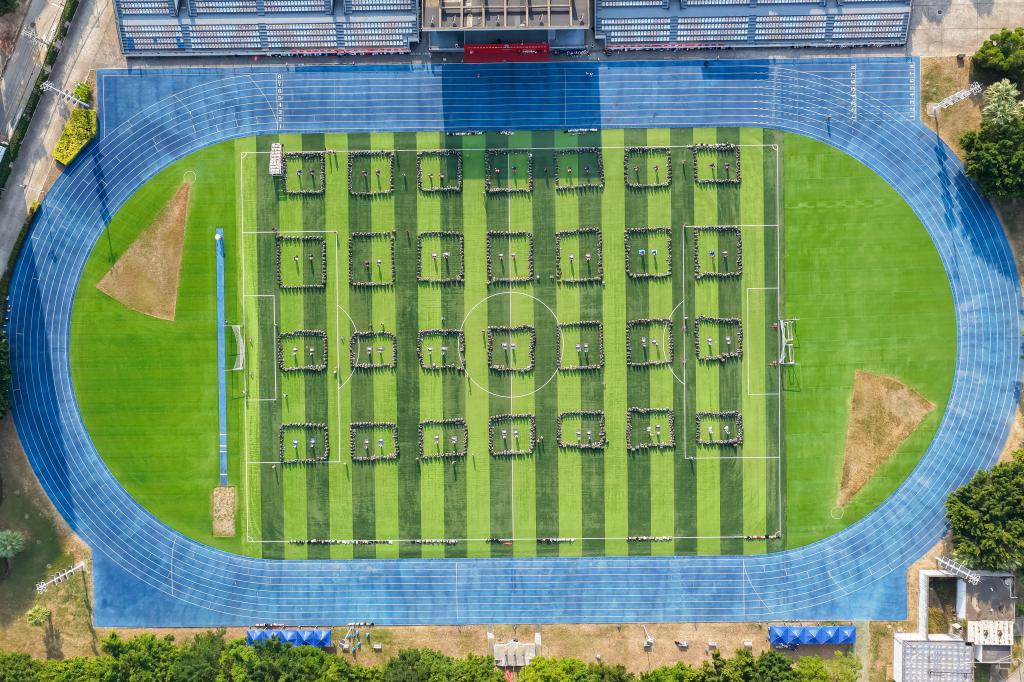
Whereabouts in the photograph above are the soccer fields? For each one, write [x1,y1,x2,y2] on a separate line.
[235,128,787,561]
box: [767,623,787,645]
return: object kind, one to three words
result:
tent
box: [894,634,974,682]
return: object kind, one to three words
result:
building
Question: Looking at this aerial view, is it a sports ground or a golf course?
sports ground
